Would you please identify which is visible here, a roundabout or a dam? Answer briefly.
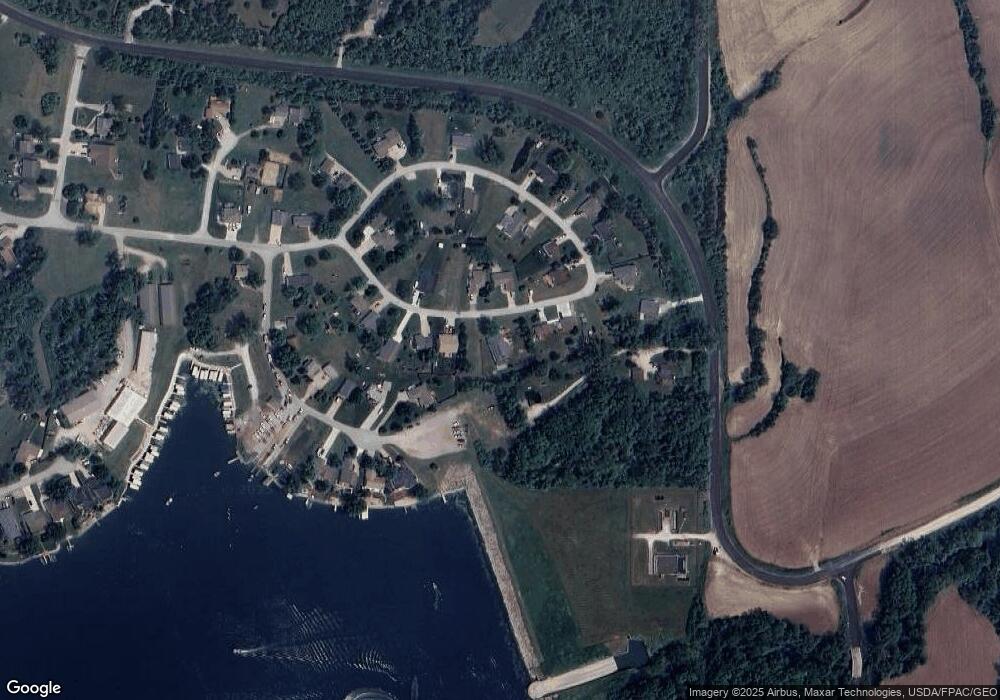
dam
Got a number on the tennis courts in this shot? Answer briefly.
0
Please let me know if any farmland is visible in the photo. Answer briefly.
Yes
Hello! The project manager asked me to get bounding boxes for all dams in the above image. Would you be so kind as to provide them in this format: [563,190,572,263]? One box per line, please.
[469,469,562,677]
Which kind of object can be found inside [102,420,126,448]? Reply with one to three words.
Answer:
building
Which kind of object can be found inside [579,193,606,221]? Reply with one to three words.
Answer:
house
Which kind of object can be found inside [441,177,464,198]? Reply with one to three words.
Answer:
house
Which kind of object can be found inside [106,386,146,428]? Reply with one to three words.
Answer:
building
